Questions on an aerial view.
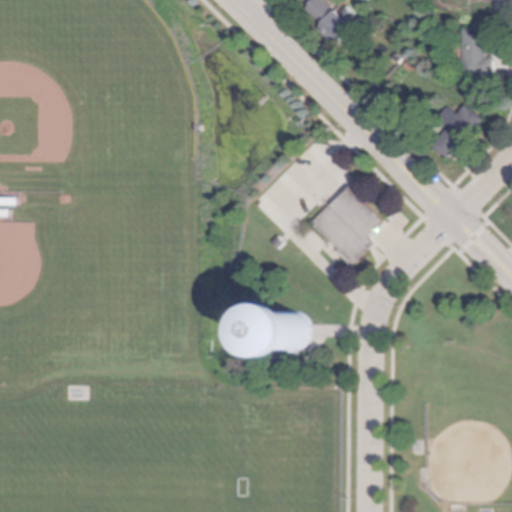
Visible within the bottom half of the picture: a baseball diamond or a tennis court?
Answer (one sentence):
The feature located within the bottom half of the picture is a baseball diamond.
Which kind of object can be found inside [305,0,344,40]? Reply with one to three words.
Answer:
house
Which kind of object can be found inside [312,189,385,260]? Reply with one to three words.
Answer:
building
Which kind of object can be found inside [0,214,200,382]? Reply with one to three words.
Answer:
baseball field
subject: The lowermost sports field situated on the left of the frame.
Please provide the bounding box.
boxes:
[0,378,338,512]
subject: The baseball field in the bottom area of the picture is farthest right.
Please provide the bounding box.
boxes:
[428,402,512,502]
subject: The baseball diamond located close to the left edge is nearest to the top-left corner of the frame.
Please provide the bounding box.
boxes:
[0,0,195,212]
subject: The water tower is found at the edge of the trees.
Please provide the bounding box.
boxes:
[216,302,312,360]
